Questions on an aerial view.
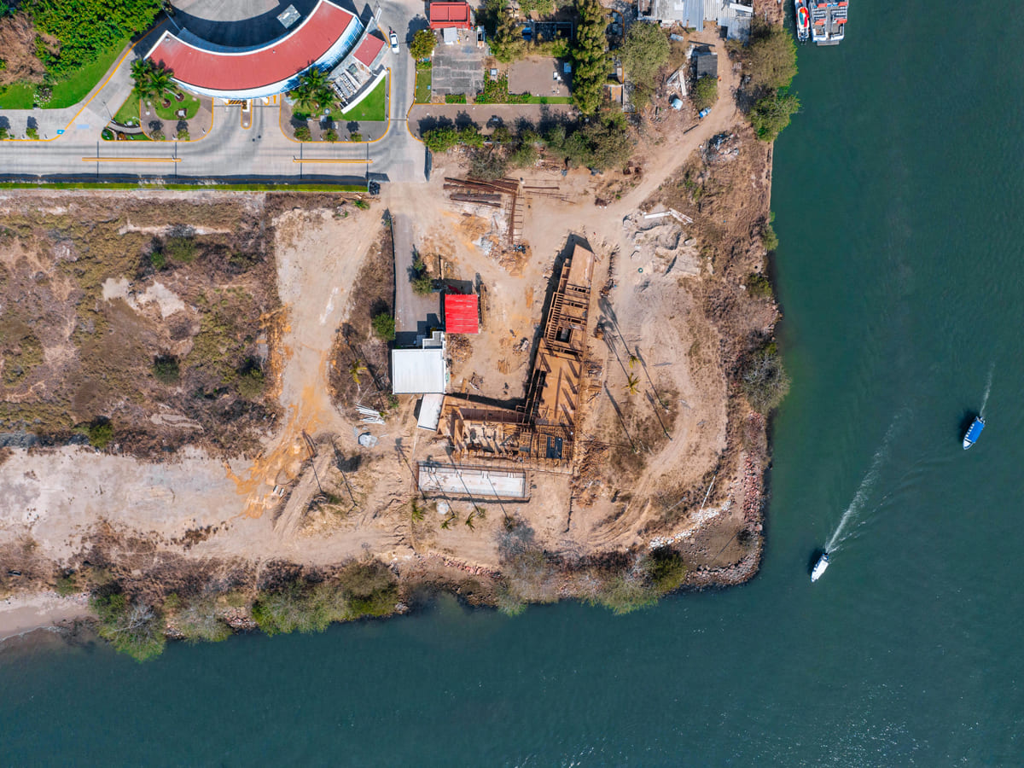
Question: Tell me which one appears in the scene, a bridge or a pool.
pool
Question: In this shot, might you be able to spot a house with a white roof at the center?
Yes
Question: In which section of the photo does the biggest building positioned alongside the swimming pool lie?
center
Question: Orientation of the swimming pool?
from side to side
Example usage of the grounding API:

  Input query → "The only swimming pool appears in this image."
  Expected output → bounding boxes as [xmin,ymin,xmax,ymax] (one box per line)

[418,462,531,500]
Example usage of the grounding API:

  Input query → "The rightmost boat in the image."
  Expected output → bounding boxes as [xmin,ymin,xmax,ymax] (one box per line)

[963,416,985,450]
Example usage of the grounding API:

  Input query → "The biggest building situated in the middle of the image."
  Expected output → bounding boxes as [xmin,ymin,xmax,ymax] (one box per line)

[437,245,594,476]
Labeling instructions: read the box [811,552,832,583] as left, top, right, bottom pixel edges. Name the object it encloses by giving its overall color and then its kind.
white boat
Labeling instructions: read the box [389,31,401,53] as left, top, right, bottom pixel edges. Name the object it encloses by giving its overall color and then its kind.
white vehicle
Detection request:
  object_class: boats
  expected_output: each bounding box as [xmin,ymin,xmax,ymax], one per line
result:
[809,0,850,46]
[963,416,985,450]
[811,552,832,583]
[795,0,811,43]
